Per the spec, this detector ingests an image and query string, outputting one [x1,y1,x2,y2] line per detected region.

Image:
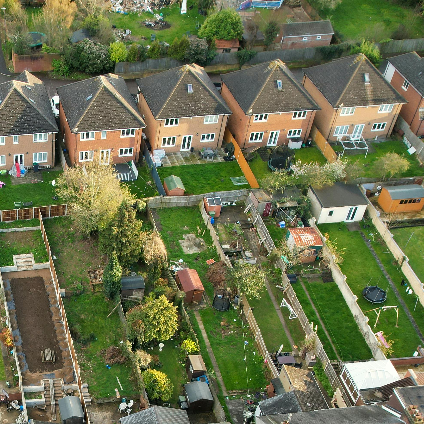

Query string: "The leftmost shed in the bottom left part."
[55,389,86,424]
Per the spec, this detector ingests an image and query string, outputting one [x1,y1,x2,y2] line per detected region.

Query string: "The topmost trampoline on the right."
[265,138,298,169]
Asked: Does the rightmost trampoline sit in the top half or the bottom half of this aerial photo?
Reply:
bottom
